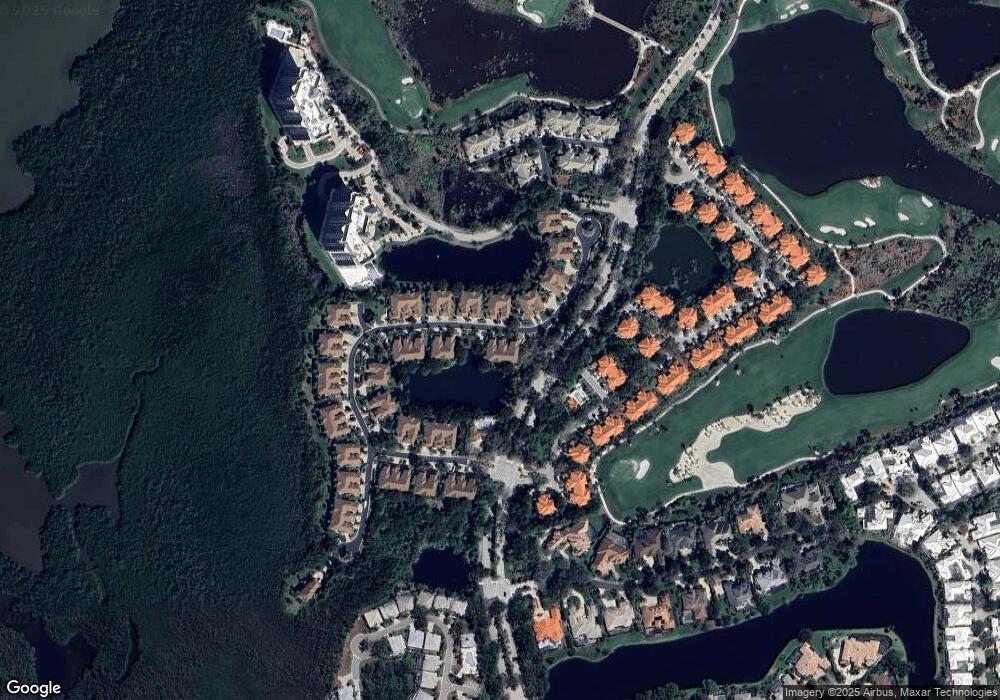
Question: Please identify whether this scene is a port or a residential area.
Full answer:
This looks like a residential area.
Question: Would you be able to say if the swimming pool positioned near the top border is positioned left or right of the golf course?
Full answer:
The swimming pool positioned near the top border is to the left of the golf course.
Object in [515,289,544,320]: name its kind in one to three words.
house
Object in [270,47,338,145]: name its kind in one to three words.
building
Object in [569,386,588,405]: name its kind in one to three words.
swimming pool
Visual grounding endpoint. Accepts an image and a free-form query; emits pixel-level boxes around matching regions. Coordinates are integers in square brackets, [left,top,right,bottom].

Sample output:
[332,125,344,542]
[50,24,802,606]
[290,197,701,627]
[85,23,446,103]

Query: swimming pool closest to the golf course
[266,21,293,41]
